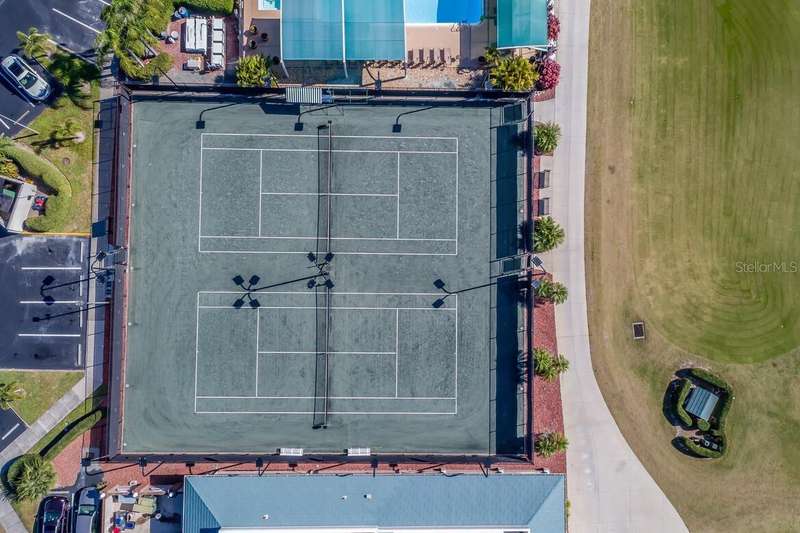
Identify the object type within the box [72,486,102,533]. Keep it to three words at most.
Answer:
car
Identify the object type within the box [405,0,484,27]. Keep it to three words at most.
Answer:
swimming pool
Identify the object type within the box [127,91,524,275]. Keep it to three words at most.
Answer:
tennis court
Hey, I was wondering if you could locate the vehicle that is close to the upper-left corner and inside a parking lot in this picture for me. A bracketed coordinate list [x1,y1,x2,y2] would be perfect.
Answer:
[0,55,51,105]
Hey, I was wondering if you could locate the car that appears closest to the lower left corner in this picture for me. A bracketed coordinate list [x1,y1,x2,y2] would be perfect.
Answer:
[41,493,71,533]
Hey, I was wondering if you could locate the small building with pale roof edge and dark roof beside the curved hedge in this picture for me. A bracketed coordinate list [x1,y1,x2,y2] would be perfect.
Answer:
[0,173,38,232]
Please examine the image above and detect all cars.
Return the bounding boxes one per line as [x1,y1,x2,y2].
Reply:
[41,493,71,533]
[72,486,102,533]
[0,55,51,105]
